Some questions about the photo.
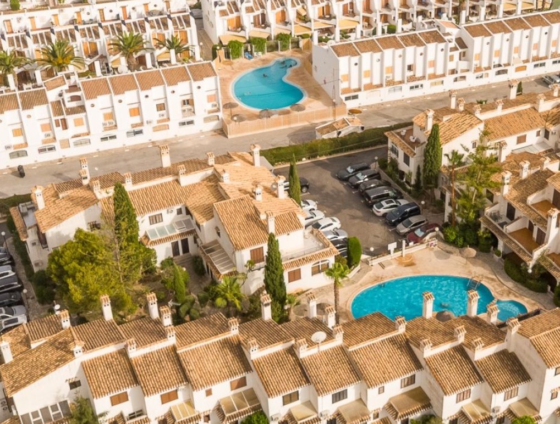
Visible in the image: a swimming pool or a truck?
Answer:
swimming pool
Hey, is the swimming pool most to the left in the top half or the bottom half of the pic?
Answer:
top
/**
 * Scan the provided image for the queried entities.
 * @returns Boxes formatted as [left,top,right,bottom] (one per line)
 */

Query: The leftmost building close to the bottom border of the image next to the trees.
[3,307,97,424]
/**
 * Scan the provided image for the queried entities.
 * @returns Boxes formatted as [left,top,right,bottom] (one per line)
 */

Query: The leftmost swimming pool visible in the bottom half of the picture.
[350,272,498,325]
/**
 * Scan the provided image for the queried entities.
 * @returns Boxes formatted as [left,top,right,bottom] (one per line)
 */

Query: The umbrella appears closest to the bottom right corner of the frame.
[433,305,456,323]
